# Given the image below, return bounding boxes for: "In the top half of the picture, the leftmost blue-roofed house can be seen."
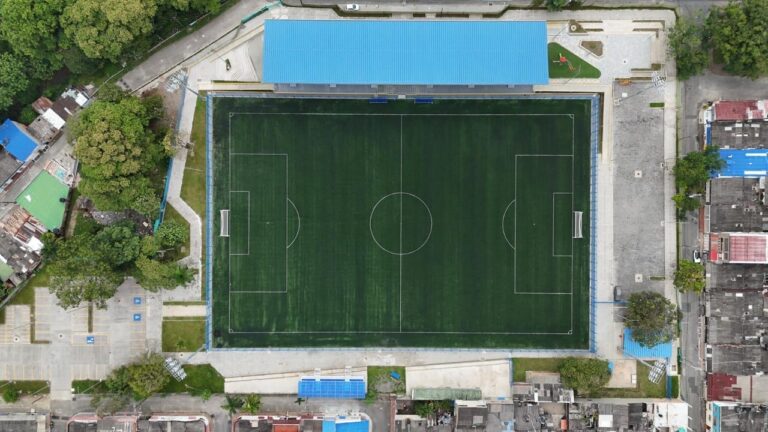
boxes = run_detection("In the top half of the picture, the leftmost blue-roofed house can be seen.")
[0,118,47,161]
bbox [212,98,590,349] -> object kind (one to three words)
soccer field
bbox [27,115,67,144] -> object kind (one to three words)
house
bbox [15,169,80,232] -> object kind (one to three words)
house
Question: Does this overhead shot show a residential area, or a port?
residential area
